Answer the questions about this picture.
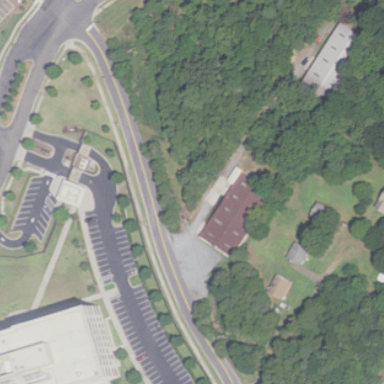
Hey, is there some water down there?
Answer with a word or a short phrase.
No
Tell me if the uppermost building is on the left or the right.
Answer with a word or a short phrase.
right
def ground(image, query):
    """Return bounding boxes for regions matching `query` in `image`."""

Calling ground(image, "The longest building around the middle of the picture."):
[199,172,261,256]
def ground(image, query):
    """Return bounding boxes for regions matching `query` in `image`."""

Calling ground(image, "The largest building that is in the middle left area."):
[56,180,89,207]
